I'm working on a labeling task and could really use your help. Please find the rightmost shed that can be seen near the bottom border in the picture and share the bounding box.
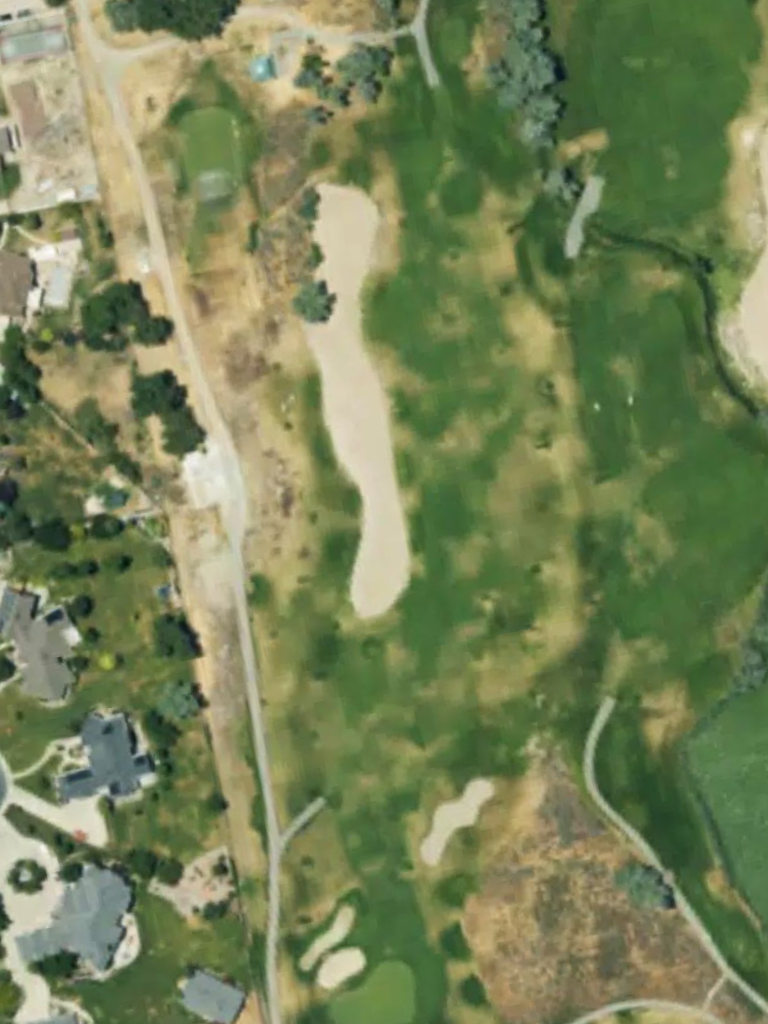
[181,972,245,1024]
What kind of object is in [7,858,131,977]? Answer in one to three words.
house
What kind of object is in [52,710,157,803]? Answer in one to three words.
house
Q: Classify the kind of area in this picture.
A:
golf course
